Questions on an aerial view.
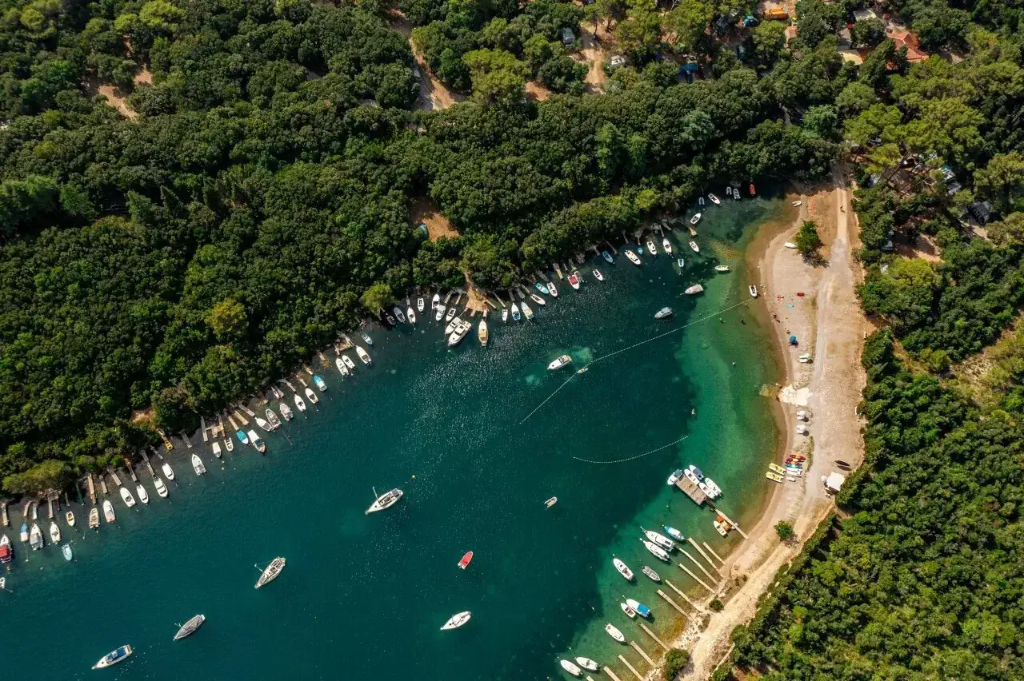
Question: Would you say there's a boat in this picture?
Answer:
Yes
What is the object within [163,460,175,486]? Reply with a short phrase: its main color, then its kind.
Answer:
white boat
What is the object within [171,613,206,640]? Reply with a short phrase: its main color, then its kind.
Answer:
gray boat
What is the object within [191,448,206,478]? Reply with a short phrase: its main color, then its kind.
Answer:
white boat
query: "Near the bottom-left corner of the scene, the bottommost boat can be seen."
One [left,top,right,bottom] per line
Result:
[89,643,135,669]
